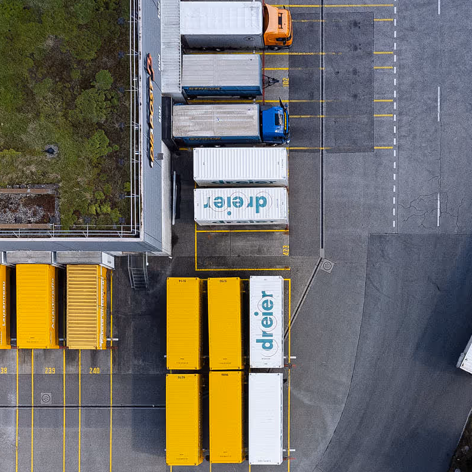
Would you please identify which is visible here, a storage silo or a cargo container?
cargo container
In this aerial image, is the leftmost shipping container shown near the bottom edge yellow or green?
yellow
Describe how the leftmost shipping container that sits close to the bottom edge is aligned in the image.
up and down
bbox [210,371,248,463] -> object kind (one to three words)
shipping container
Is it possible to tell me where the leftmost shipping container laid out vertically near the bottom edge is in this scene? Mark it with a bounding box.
[166,373,206,465]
